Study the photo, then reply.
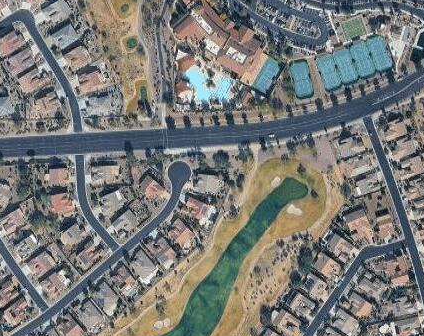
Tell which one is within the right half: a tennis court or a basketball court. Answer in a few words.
tennis court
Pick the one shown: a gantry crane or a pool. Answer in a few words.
pool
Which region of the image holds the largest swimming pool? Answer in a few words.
top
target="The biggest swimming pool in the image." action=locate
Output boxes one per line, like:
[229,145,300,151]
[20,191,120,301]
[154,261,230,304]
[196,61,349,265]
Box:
[183,65,235,102]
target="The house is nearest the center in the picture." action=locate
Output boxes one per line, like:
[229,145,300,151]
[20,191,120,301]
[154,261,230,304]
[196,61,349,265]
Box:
[198,167,221,196]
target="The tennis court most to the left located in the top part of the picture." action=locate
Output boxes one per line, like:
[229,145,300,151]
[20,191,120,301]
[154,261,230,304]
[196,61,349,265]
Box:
[254,59,281,93]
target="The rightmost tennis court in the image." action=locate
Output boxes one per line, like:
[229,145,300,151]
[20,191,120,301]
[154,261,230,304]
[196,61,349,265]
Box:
[368,34,393,70]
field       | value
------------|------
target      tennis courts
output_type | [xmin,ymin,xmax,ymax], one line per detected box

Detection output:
[290,59,314,98]
[254,59,281,93]
[318,54,342,90]
[368,34,393,70]
[334,49,359,85]
[351,41,375,77]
